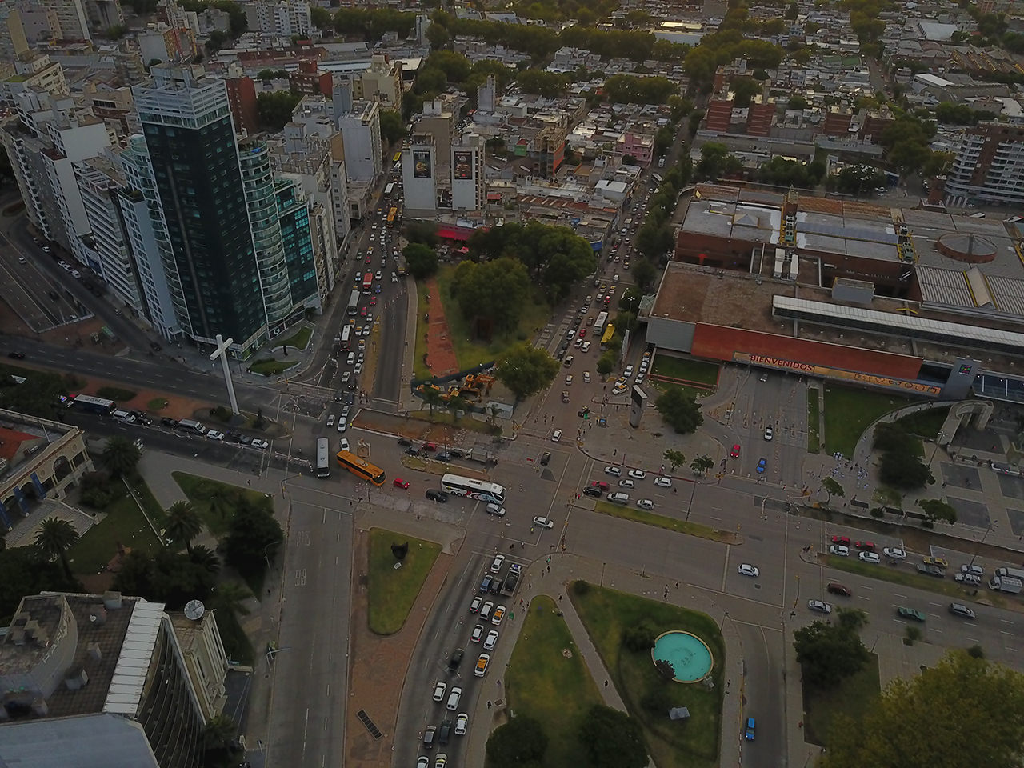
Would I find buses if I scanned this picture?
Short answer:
Yes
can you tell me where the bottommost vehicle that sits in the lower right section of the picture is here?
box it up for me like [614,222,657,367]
[744,712,759,742]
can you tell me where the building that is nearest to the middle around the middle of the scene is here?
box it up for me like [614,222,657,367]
[487,400,513,425]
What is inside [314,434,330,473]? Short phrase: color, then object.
gray vehicle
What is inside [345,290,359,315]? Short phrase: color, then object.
gray vehicle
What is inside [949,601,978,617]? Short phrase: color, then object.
gray car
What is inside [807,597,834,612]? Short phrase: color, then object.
gray car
